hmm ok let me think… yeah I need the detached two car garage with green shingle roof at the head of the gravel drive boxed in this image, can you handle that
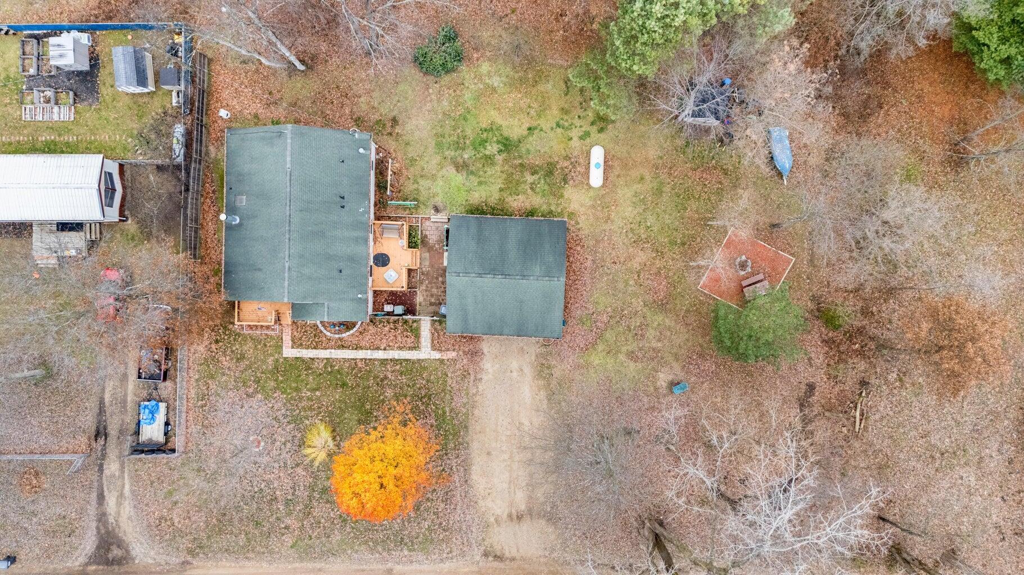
[444,213,568,342]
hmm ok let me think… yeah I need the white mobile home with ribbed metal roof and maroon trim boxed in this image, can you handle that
[0,154,129,223]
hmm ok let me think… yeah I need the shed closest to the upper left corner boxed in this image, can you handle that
[50,34,89,71]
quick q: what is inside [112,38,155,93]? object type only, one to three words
shed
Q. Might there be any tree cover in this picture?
Yes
